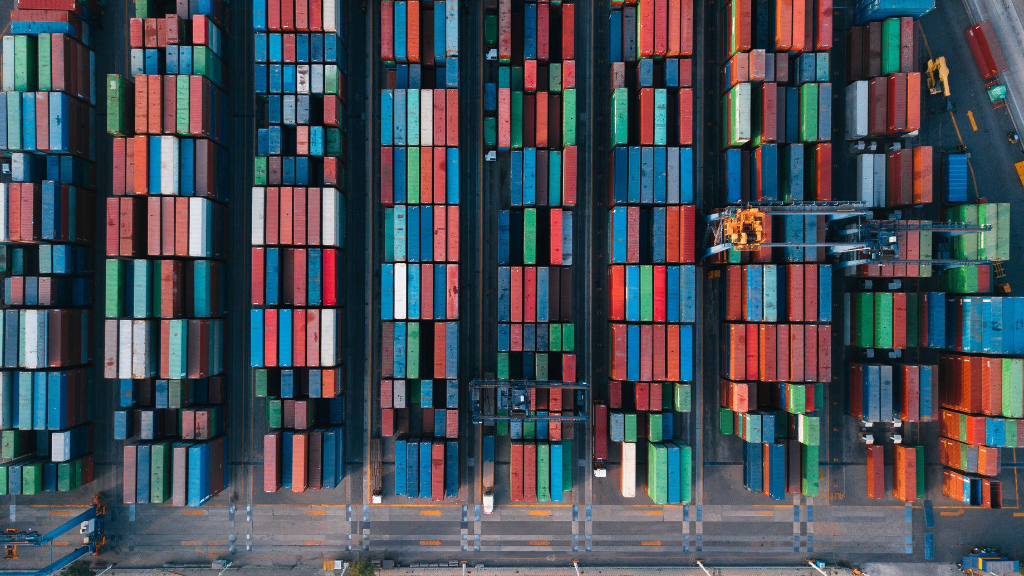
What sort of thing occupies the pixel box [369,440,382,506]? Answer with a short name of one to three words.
vehicle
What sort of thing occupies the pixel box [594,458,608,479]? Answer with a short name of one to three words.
vehicle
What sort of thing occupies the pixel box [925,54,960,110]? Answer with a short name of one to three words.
work vehicle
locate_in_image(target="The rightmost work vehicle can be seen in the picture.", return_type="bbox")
[1010,127,1022,143]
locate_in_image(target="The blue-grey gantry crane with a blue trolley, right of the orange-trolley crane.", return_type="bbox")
[834,220,992,278]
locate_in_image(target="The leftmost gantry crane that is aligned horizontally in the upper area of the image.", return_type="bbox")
[702,197,866,263]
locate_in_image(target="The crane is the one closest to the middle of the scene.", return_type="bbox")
[467,359,592,424]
